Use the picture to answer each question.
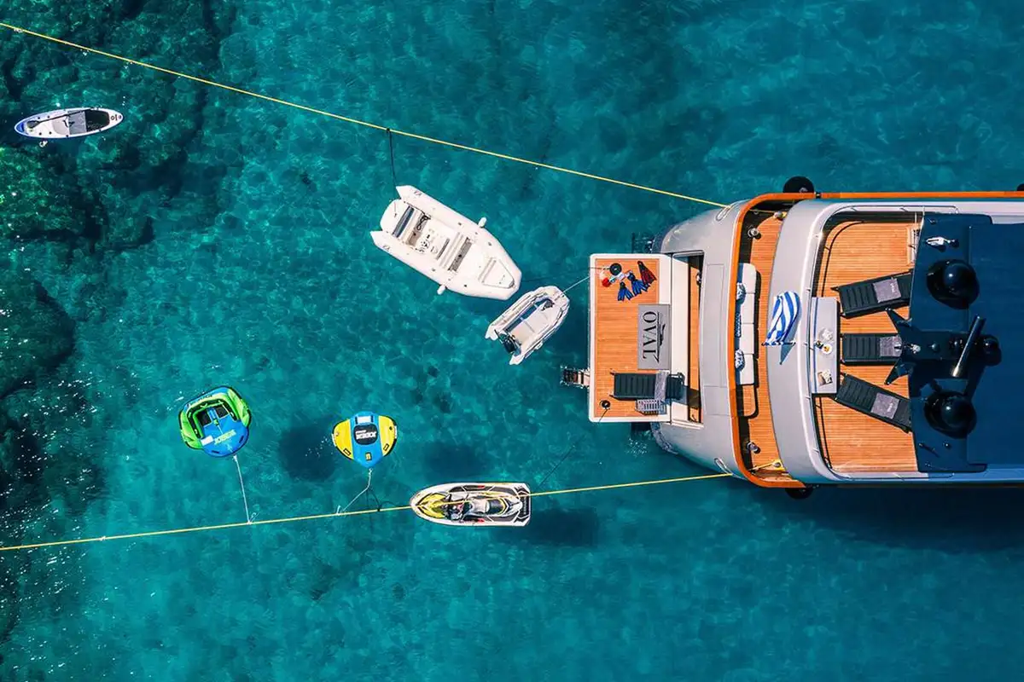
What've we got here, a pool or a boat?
boat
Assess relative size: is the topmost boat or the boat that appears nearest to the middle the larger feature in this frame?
the topmost boat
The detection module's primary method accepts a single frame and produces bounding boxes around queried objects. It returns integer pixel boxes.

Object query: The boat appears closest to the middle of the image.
[486,288,569,366]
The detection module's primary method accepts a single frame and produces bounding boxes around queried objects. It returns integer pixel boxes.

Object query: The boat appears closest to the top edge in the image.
[371,187,521,300]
